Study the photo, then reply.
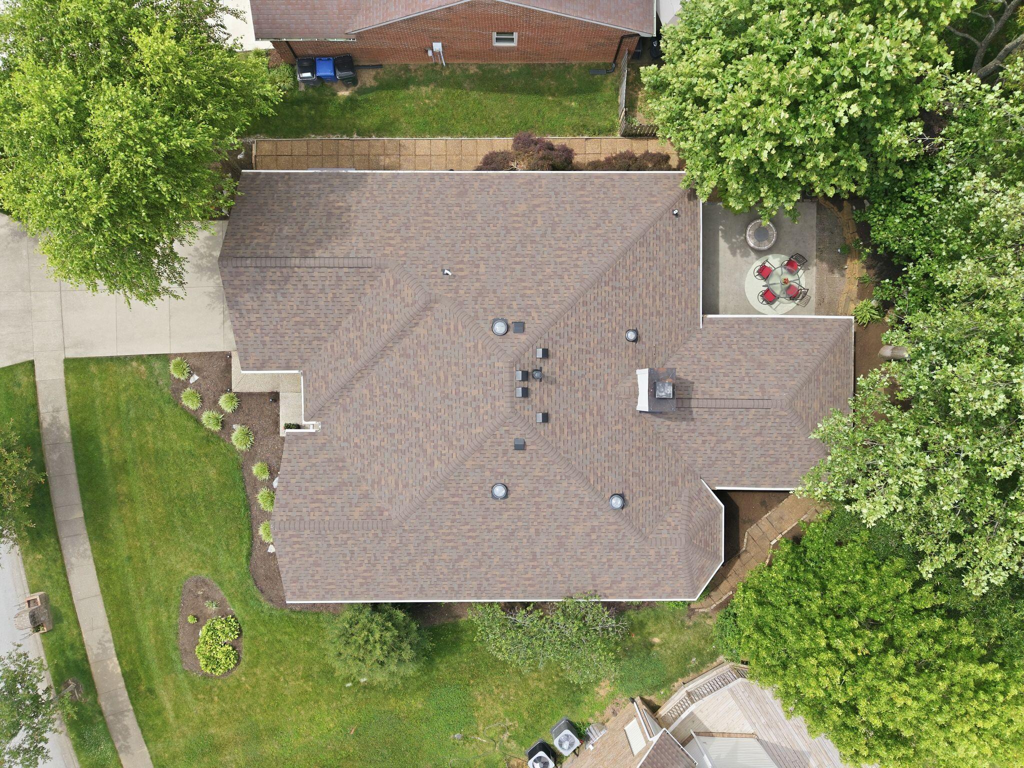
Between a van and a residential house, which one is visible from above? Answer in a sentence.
I can see a residential house in this picture.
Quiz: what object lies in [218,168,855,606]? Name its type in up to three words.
house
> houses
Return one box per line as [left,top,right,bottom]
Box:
[247,0,654,73]
[563,690,779,768]
[218,168,855,606]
